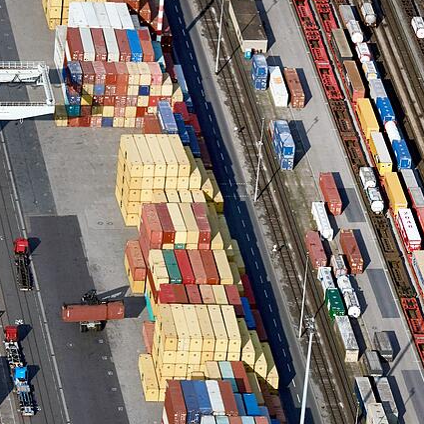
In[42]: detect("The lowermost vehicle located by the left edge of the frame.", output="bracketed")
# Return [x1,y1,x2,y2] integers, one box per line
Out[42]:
[13,369,34,414]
